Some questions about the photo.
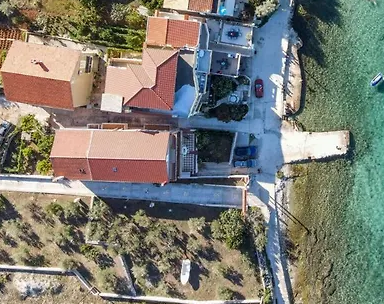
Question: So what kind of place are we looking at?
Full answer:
It's a residential area.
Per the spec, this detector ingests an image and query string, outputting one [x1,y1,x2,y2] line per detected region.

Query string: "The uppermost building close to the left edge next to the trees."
[1,40,100,109]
